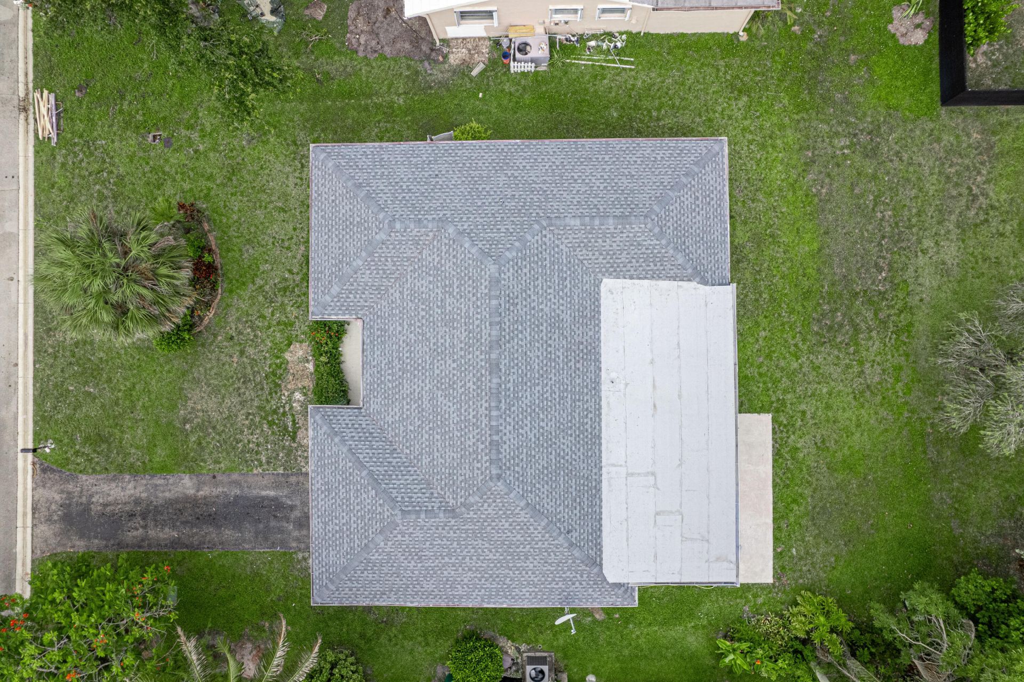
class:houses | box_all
[309,137,740,606]
[403,0,779,44]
